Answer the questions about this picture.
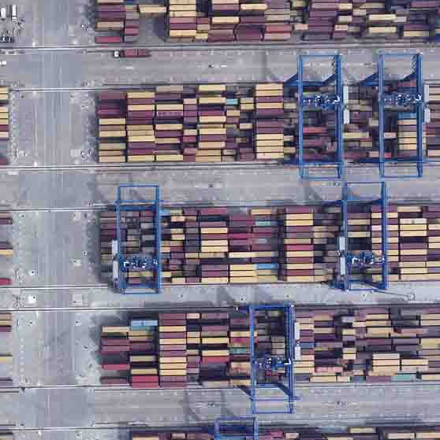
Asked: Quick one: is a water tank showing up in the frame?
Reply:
No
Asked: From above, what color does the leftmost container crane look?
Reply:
blue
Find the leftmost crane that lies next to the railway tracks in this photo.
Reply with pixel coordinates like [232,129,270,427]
[110,185,163,294]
